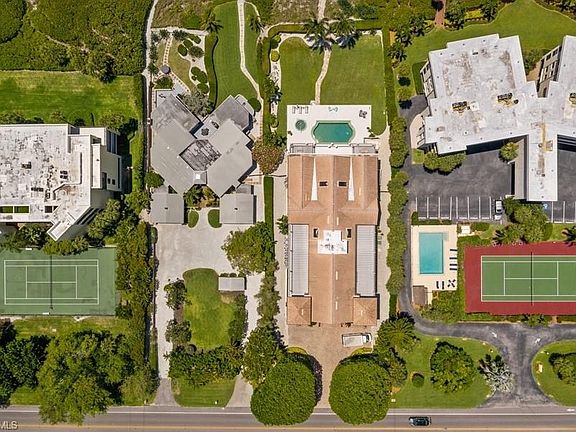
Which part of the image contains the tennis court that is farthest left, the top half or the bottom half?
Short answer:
bottom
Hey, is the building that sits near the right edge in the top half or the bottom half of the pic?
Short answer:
top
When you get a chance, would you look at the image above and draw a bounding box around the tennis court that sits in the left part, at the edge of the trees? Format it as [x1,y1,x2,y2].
[0,247,116,315]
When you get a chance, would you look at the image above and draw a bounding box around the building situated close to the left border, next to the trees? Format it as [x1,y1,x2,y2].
[0,124,122,240]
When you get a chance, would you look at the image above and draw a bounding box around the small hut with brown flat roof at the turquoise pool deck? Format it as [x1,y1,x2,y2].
[410,286,428,306]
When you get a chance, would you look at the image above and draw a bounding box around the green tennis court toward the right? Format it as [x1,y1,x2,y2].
[465,242,576,313]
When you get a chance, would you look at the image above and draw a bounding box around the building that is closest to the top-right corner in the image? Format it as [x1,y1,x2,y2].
[414,34,576,200]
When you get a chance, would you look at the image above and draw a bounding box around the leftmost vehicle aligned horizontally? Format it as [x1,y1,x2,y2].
[342,334,371,348]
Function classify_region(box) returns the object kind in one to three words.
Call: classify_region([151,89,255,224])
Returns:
house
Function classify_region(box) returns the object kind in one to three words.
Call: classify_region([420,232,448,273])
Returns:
swimming pool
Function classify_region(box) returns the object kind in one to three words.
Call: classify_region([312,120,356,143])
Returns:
swimming pool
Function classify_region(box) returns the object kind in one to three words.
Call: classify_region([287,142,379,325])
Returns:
house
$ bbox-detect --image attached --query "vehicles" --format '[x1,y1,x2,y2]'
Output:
[493,200,505,220]
[409,416,429,426]
[342,334,371,348]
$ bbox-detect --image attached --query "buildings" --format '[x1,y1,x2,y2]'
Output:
[219,277,245,291]
[151,89,255,224]
[414,34,576,200]
[410,286,428,306]
[0,124,122,240]
[287,142,379,325]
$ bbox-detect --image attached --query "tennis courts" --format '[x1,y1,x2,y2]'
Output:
[0,247,116,315]
[465,242,576,313]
